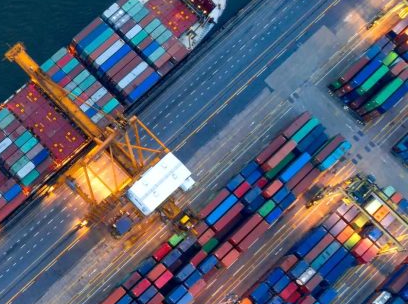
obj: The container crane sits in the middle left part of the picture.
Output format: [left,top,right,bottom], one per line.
[3,35,198,232]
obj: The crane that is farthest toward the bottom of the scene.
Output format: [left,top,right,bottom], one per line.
[307,171,408,259]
